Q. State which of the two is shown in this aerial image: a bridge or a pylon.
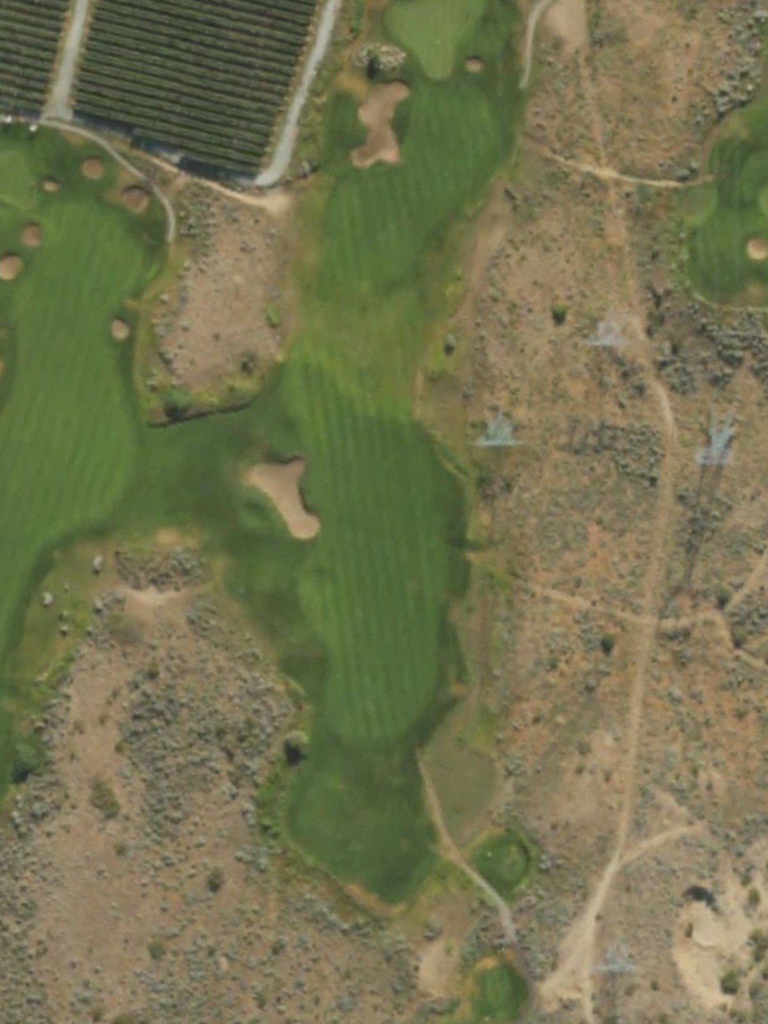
pylon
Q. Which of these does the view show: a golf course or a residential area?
golf course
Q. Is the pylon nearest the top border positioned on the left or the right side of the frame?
right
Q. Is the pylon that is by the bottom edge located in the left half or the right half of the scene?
right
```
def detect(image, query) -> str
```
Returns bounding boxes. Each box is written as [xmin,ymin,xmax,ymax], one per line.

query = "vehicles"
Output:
[29,122,37,130]
[4,114,12,121]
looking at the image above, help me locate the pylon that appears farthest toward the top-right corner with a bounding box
[589,298,637,348]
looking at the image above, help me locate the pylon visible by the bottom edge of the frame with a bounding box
[594,923,641,979]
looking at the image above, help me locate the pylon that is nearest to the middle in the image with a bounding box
[476,399,524,450]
